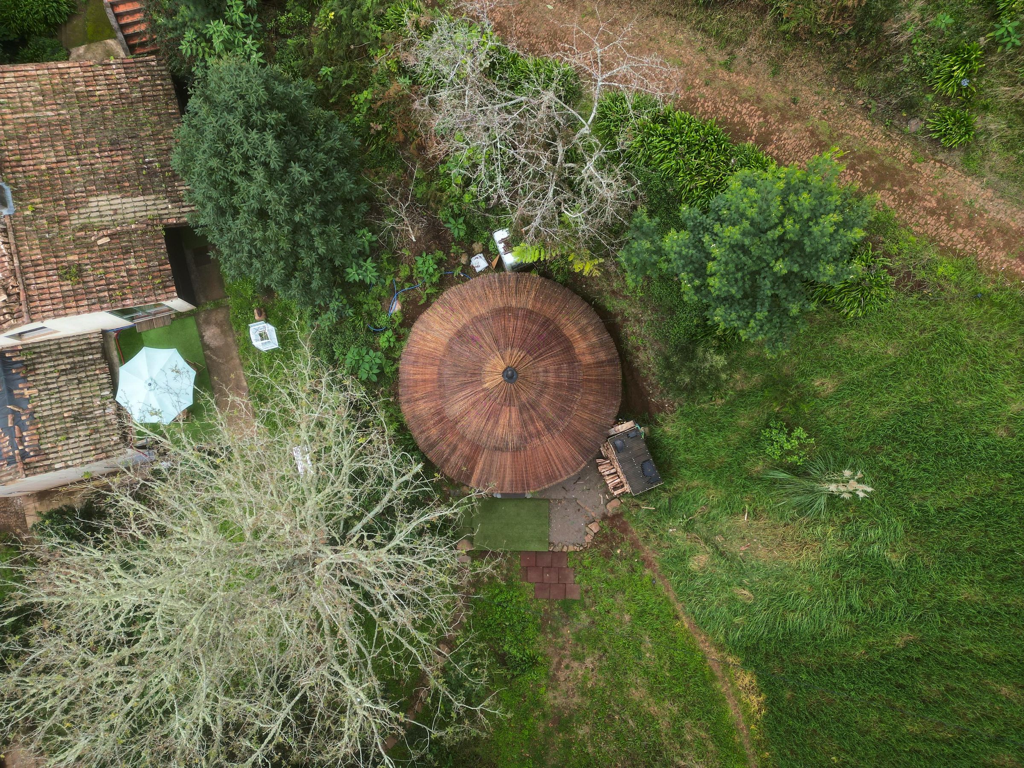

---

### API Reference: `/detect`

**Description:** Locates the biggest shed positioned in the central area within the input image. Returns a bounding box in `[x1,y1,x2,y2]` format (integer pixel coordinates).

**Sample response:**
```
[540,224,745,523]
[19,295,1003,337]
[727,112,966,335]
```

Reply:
[396,274,624,497]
